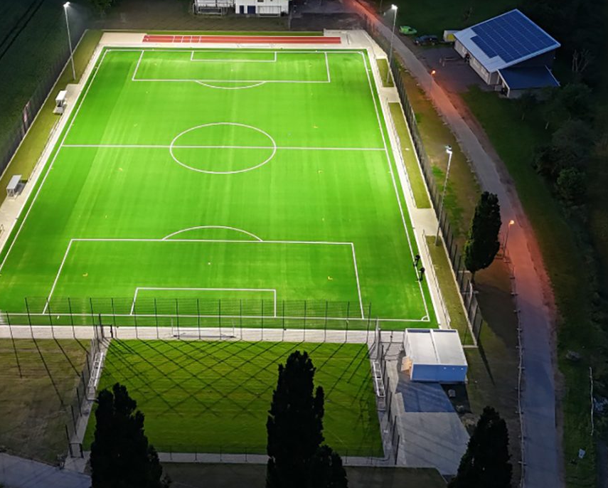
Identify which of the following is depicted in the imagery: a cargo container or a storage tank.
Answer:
cargo container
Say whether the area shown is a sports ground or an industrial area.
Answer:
sports ground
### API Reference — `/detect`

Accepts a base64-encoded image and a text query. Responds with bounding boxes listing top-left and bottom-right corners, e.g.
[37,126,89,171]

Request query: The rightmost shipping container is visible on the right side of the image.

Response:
[434,329,470,383]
